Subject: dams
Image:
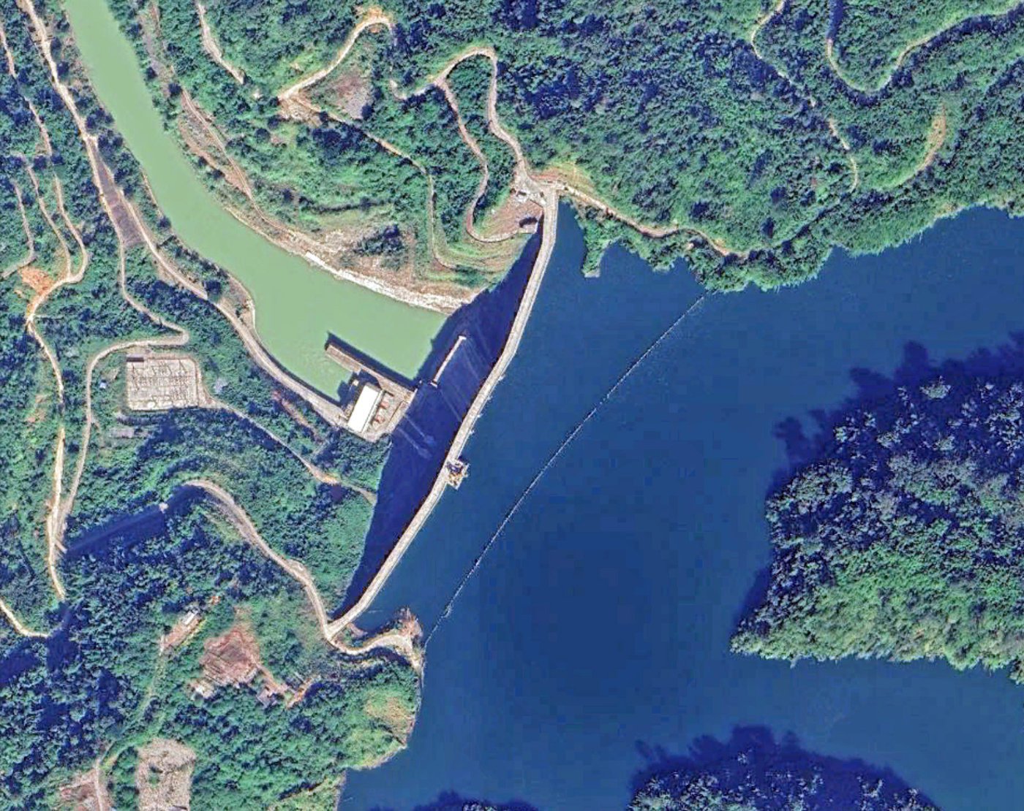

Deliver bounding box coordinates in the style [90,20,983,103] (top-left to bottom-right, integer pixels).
[331,189,559,635]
